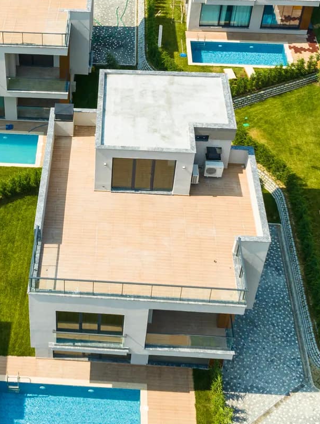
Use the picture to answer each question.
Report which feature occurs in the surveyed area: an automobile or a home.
home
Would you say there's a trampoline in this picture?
No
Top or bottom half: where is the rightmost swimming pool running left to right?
top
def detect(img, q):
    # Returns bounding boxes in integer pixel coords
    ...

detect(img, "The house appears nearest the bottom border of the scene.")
[28,68,272,386]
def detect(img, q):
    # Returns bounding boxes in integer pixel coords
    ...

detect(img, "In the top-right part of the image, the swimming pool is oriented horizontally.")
[185,27,318,66]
